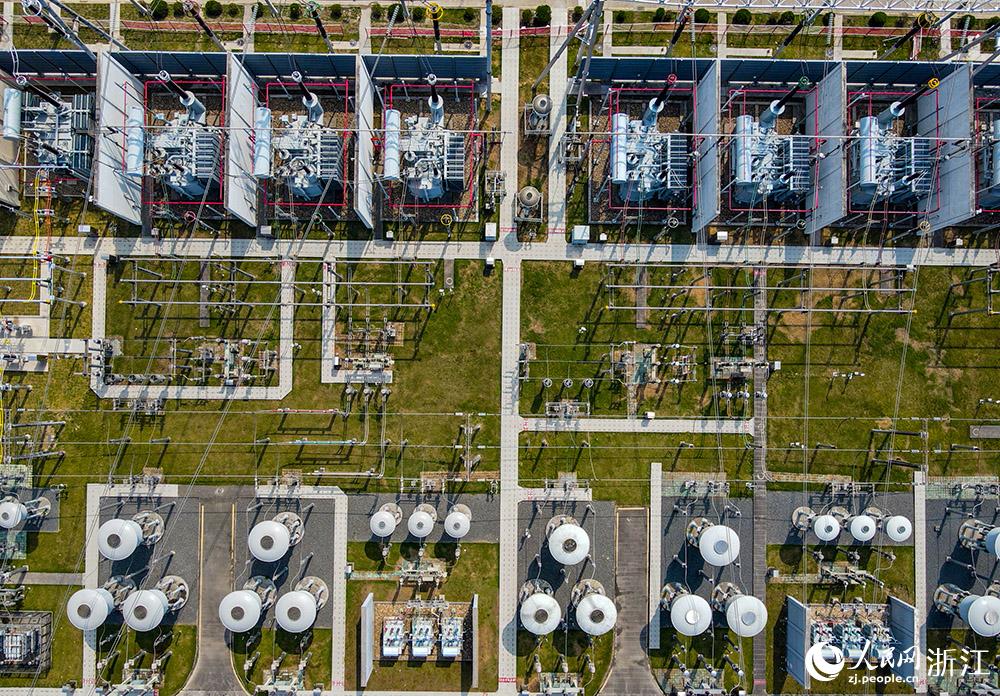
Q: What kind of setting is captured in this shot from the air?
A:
industrial area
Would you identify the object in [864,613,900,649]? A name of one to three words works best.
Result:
storage tank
